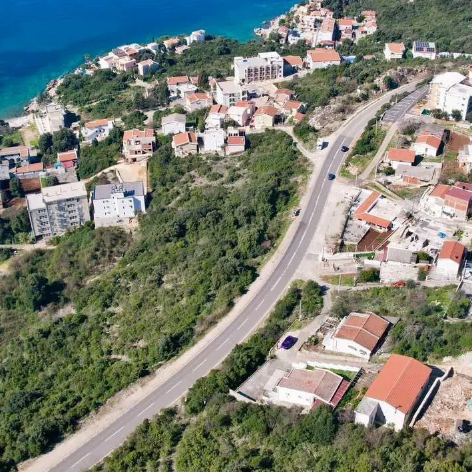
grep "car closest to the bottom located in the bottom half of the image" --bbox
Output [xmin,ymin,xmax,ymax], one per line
[279,335,297,350]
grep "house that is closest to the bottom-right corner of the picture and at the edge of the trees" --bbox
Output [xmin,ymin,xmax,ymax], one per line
[355,355,430,432]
